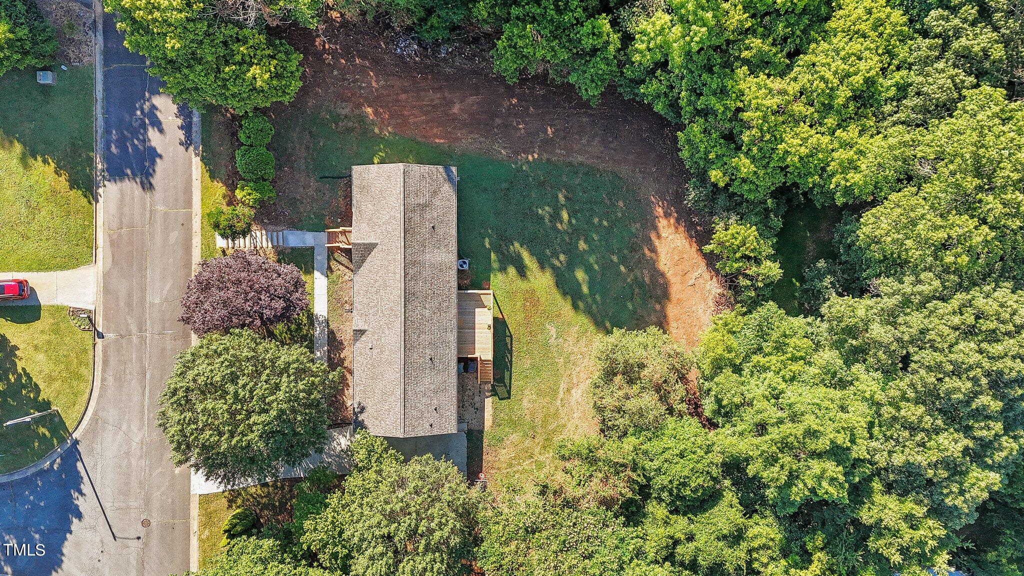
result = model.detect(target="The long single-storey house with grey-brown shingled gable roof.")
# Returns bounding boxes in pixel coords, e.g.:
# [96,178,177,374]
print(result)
[349,162,465,437]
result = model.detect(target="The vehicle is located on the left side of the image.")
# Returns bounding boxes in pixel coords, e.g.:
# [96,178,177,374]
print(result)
[0,278,32,302]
